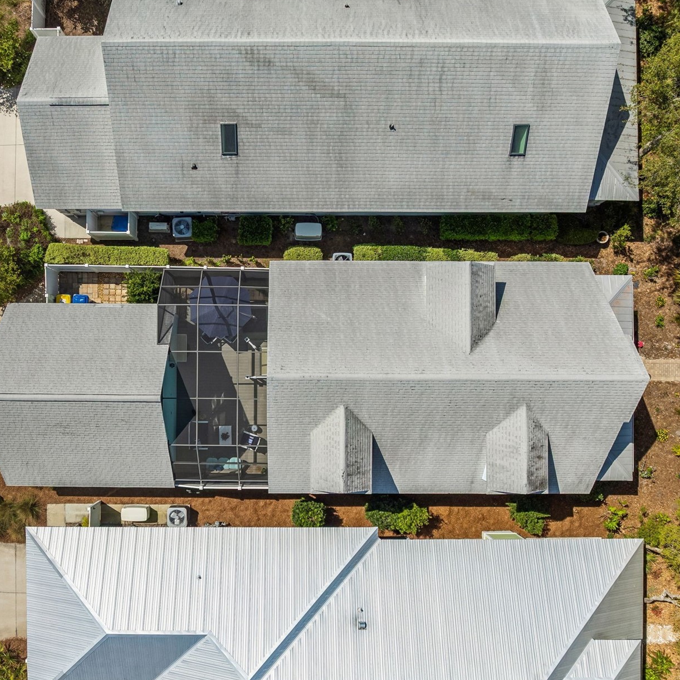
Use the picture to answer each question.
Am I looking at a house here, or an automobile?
house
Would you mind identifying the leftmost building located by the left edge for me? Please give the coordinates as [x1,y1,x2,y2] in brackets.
[0,307,177,489]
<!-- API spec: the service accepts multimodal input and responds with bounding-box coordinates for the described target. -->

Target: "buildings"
[0,307,177,489]
[267,261,649,494]
[25,526,646,680]
[17,0,640,226]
